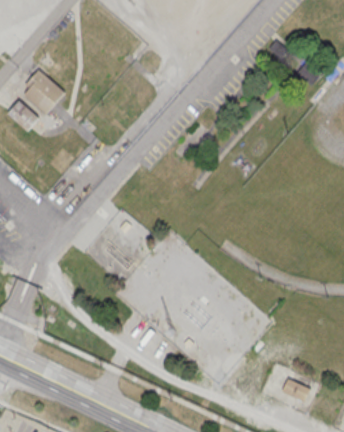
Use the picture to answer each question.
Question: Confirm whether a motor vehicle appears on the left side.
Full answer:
Yes, the scene does show a motor vehicle on the left side.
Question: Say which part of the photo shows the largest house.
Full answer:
The largest house sits in the top left section of the image.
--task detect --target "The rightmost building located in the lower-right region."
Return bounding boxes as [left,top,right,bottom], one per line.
[283,378,310,400]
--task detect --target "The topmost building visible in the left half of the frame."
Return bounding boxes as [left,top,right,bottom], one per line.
[22,70,66,114]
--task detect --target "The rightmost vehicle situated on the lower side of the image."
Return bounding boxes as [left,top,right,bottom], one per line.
[153,340,168,359]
